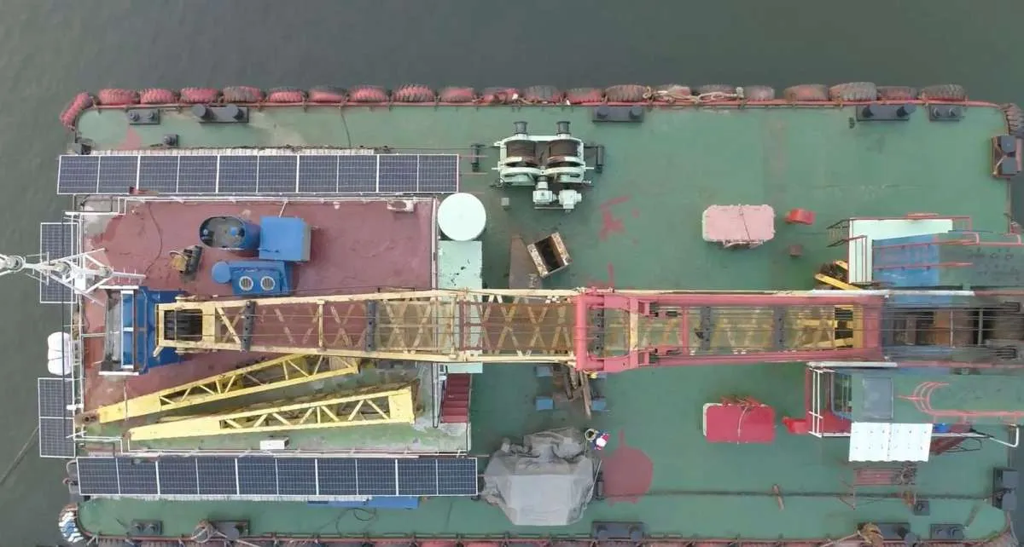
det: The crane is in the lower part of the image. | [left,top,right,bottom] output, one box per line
[151,213,1024,463]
